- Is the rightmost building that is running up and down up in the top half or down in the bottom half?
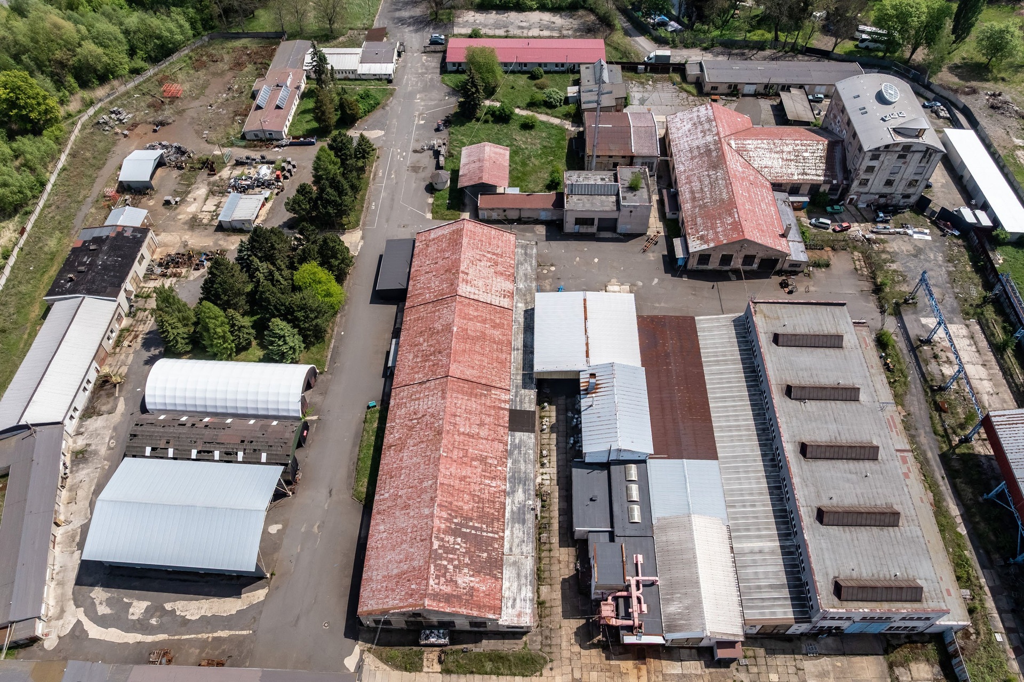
bottom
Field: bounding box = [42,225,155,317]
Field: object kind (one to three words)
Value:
building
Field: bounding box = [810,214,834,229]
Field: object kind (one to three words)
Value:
car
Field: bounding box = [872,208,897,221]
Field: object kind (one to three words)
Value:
vehicle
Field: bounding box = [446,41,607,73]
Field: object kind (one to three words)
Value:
house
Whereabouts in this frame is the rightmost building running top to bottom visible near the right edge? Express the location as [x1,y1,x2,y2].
[967,411,1024,551]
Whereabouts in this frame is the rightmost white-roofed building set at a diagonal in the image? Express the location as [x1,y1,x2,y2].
[938,127,1024,248]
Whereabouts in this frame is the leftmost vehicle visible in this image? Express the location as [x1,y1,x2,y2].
[204,160,217,176]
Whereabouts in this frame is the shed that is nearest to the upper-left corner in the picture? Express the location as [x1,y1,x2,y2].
[118,151,168,192]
